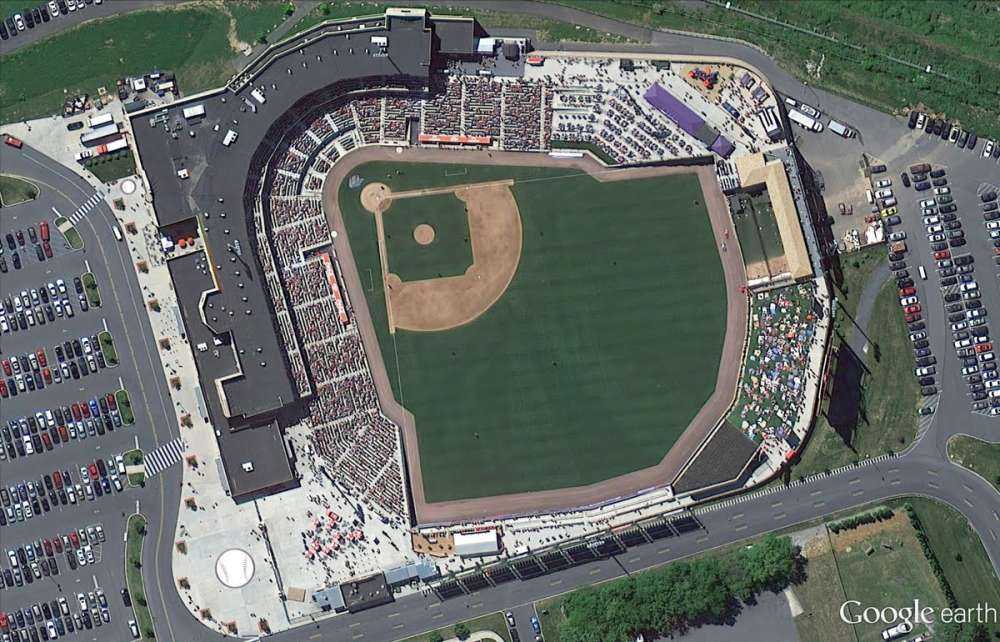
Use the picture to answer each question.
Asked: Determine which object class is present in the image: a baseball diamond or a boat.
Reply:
baseball diamond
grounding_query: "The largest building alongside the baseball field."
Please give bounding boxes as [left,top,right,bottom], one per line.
[127,12,475,497]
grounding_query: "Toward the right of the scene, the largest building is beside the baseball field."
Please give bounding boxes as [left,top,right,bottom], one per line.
[735,154,812,283]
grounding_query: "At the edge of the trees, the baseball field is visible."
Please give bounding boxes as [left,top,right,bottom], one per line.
[322,148,749,526]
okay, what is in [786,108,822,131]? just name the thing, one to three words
truck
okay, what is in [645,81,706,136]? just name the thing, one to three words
tent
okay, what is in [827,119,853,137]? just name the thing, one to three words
vehicle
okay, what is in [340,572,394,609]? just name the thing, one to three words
building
